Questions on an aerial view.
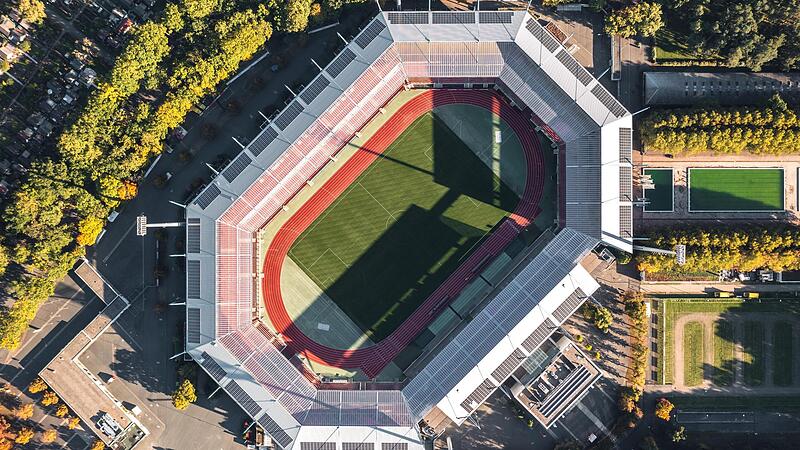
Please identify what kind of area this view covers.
sports ground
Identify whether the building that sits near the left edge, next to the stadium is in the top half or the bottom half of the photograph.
bottom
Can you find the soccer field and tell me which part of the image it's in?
center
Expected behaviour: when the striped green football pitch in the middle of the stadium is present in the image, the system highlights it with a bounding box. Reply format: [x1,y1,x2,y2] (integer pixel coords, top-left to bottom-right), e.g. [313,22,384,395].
[288,112,520,344]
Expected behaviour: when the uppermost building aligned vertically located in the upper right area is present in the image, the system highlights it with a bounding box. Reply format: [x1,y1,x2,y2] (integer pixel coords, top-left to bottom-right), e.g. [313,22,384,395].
[609,37,623,82]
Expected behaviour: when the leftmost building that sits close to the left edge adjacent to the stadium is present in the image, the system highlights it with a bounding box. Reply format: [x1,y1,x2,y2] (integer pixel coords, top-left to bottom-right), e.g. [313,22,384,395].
[38,260,156,450]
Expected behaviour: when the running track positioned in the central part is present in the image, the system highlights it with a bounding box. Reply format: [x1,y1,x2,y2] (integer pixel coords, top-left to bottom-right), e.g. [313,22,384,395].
[257,82,560,384]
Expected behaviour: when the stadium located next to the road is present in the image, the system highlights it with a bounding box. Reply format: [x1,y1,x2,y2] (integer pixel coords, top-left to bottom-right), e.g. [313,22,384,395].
[168,0,649,450]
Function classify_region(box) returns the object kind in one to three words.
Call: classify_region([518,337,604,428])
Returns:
building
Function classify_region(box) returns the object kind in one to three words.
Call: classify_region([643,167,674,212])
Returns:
swimming pool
